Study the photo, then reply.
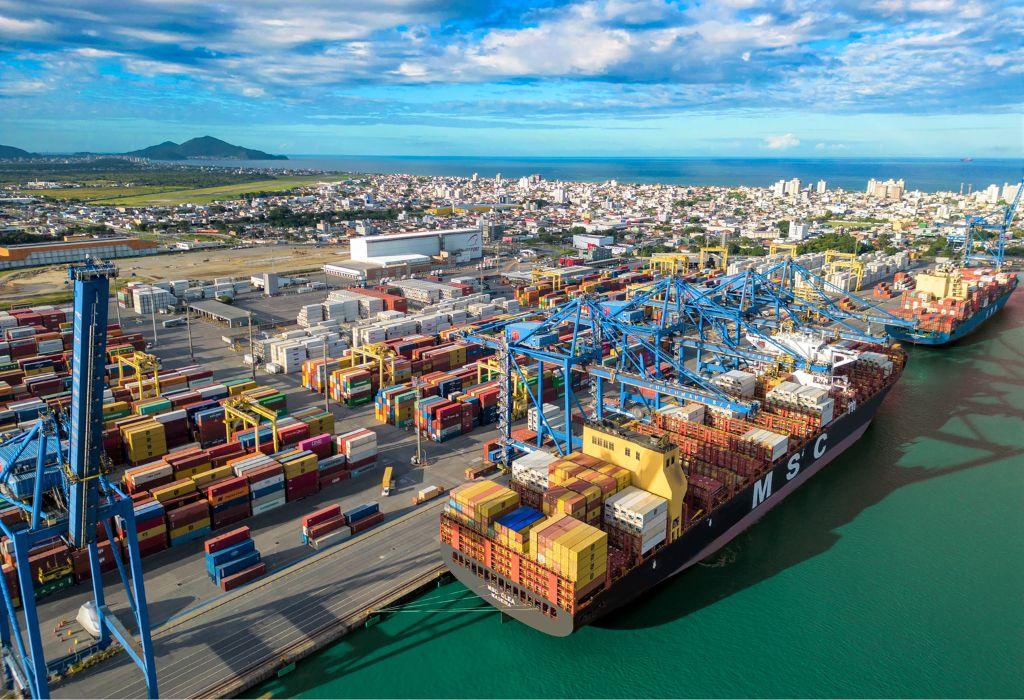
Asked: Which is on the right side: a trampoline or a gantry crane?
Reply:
gantry crane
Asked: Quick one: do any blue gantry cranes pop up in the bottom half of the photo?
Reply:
Yes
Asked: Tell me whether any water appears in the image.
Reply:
Yes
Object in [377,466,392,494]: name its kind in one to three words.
vehicle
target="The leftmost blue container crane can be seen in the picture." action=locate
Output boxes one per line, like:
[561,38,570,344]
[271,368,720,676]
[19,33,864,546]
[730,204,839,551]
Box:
[0,253,178,700]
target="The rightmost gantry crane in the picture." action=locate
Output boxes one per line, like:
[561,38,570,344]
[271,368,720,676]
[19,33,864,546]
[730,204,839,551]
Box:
[936,185,1024,269]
